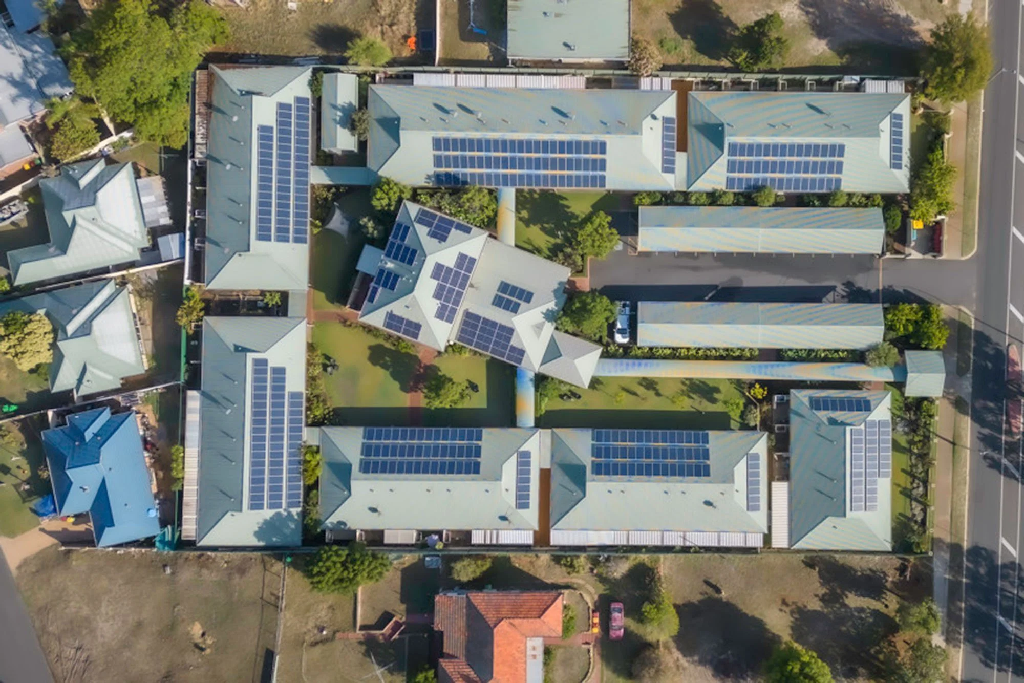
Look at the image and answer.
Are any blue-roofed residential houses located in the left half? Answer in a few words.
Yes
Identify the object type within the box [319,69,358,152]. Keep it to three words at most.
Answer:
shed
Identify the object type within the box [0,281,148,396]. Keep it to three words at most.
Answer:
house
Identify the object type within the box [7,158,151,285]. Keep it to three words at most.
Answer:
house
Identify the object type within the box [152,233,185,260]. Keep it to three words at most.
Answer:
shed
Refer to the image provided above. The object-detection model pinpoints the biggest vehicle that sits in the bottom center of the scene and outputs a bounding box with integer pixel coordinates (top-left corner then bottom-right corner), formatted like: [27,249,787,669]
[609,602,626,640]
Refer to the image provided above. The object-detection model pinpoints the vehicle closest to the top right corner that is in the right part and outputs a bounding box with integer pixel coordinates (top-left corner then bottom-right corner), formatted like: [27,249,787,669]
[614,301,632,343]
